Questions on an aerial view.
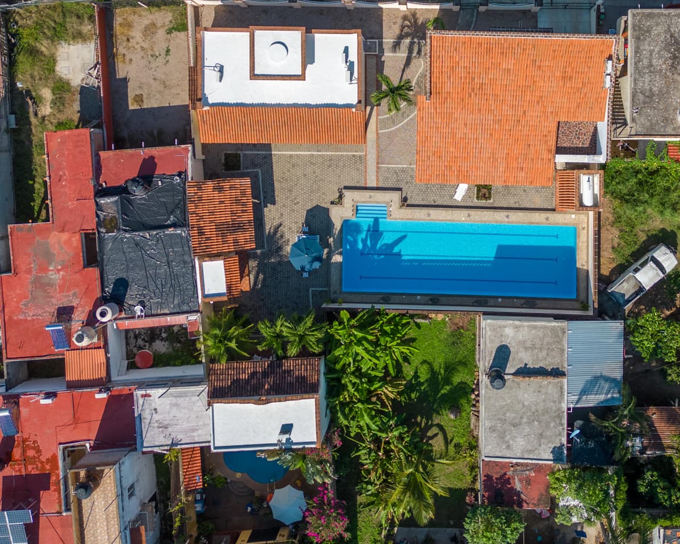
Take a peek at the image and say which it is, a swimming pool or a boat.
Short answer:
swimming pool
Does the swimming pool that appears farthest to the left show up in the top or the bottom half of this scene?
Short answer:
bottom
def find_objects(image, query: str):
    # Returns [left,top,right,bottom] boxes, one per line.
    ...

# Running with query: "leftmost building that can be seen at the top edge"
[196,26,378,146]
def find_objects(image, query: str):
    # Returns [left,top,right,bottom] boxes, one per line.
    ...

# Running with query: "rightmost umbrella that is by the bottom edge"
[269,481,308,520]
